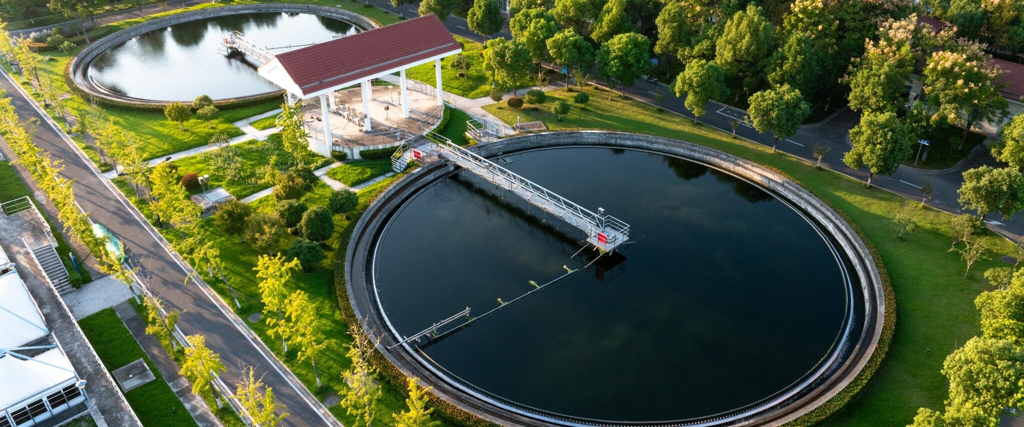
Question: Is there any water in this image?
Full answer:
Yes, the picture does contain water.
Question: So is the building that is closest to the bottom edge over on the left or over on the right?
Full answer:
It is on the left.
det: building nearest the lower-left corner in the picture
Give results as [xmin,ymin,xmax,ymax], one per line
[0,336,91,427]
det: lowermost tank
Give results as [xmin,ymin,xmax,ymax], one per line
[344,130,884,427]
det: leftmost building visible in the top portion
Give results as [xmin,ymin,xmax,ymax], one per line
[255,14,462,155]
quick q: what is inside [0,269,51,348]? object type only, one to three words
building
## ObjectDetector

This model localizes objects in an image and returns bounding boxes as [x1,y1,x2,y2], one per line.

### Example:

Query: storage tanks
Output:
[344,130,884,427]
[70,3,383,105]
